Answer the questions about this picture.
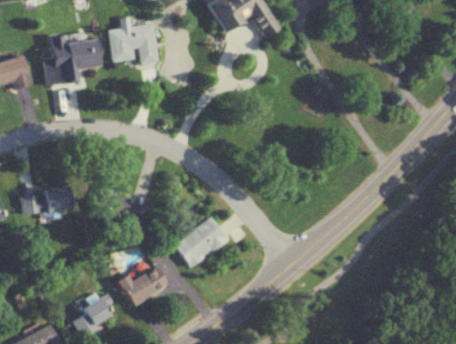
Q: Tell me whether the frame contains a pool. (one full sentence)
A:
Yes, you can see a pool in this photo.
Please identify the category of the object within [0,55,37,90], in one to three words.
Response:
house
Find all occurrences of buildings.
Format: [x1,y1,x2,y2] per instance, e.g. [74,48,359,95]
[0,200,10,225]
[22,198,41,214]
[178,218,233,267]
[75,290,120,333]
[108,16,160,66]
[206,0,284,37]
[116,266,170,311]
[0,55,37,90]
[14,322,60,344]
[43,37,104,87]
